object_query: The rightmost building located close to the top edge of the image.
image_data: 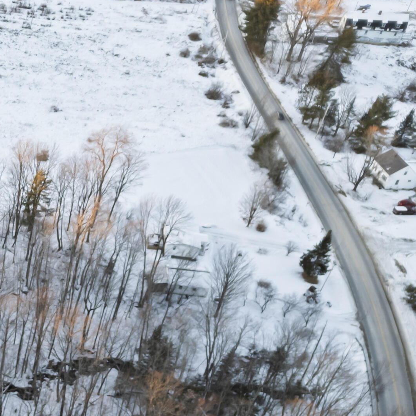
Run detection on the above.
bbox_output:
[331,5,414,47]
